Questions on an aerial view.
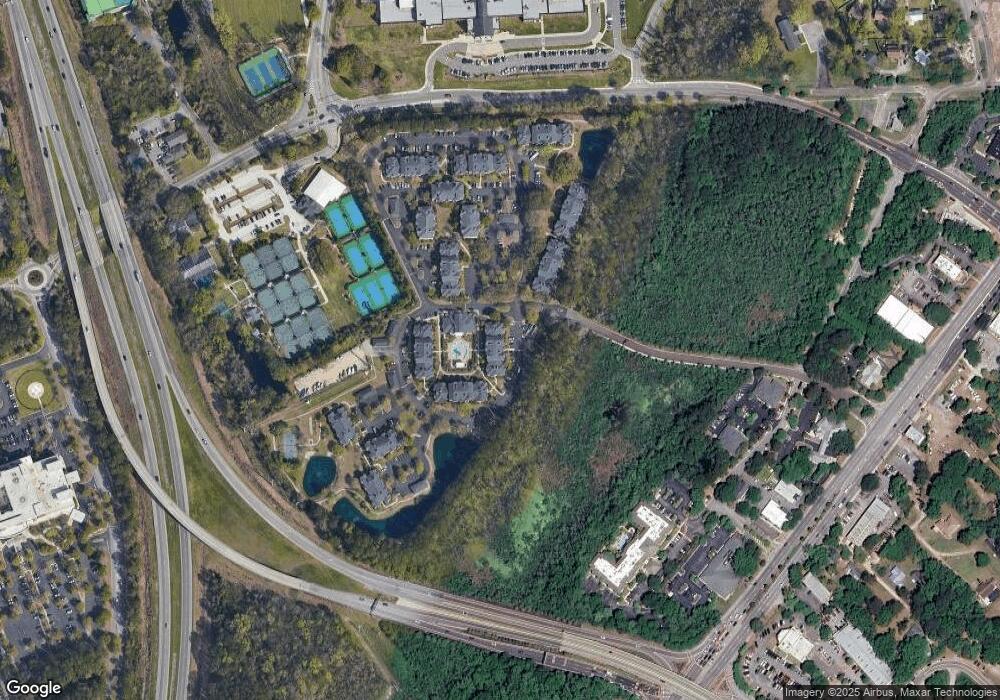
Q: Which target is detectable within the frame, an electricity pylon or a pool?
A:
pool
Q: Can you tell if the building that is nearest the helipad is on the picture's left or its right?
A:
left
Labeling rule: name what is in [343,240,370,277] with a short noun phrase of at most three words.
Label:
tennis court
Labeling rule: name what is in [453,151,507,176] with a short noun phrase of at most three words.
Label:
building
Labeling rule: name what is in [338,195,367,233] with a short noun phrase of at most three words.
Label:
tennis court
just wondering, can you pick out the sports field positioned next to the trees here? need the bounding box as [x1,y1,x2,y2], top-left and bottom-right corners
[221,0,305,42]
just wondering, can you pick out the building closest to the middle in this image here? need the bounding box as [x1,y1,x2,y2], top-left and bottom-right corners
[483,323,506,376]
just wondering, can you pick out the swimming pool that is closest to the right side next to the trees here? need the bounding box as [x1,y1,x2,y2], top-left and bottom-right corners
[611,528,634,555]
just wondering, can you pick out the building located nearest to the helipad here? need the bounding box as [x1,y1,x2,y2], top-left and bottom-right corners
[0,456,79,530]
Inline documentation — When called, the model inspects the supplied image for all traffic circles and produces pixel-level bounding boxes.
[18,258,53,293]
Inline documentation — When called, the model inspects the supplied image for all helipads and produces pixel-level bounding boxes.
[17,371,56,409]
